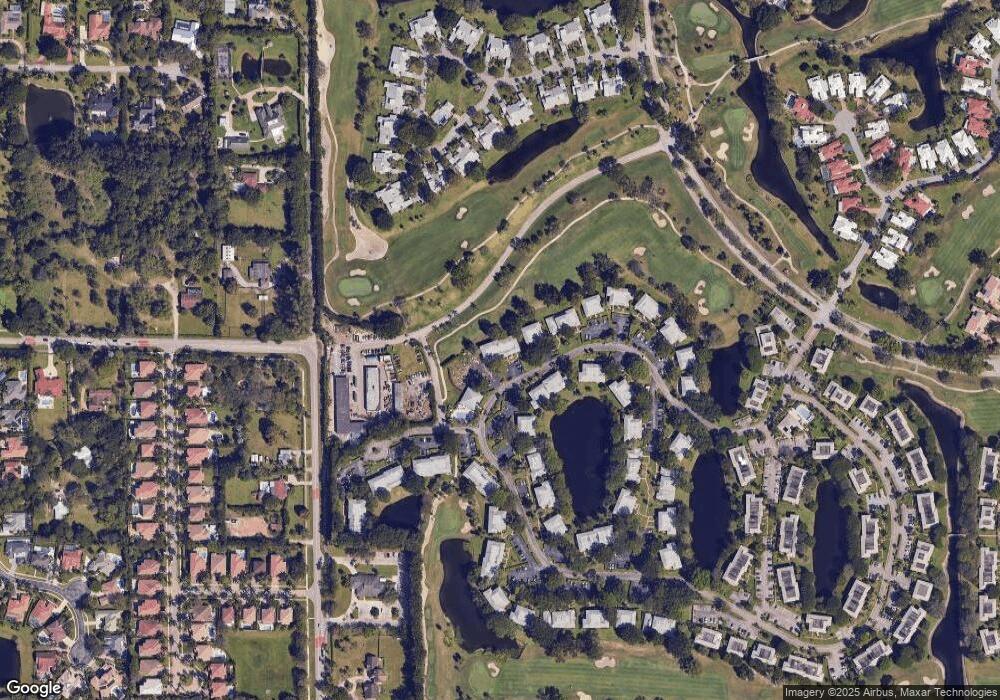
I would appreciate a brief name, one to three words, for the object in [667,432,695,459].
building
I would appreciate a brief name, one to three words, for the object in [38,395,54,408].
swimming pool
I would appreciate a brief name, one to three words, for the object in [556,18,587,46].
house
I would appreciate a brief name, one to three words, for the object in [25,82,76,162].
pond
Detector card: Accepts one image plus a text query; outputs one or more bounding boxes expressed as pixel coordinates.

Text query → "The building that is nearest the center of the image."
[480,334,521,361]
